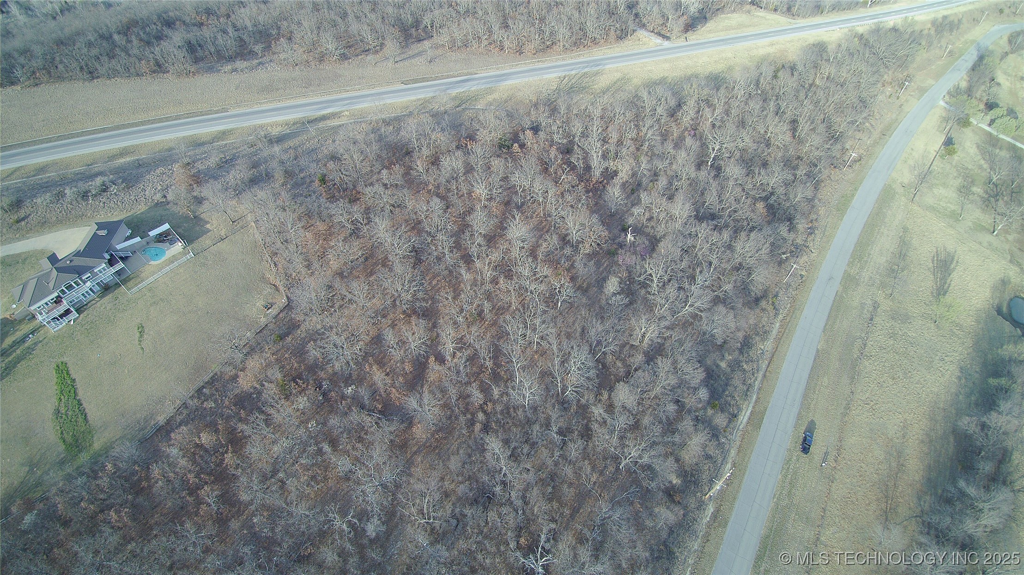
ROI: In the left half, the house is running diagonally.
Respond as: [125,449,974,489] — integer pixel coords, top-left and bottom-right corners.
[1,221,136,333]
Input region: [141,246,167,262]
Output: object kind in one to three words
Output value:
swimming pool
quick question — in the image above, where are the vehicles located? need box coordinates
[797,431,814,458]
